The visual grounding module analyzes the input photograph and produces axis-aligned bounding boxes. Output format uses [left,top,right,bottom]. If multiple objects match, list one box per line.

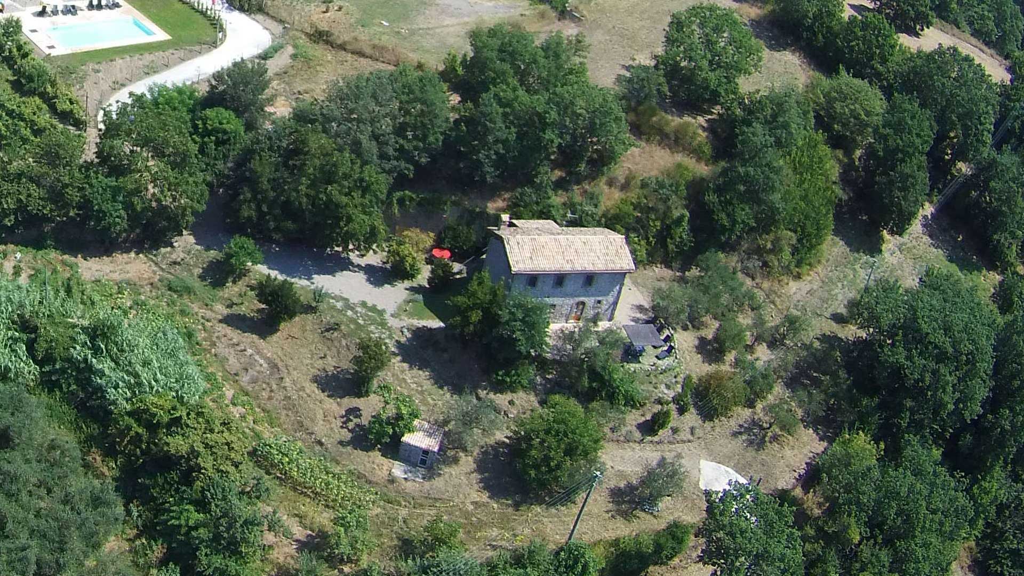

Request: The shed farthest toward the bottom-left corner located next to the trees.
[402,416,447,470]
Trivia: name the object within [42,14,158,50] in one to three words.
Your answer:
swimming pool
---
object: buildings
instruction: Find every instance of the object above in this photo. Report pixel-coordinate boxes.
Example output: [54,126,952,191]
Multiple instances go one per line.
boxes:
[488,211,634,325]
[402,416,447,470]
